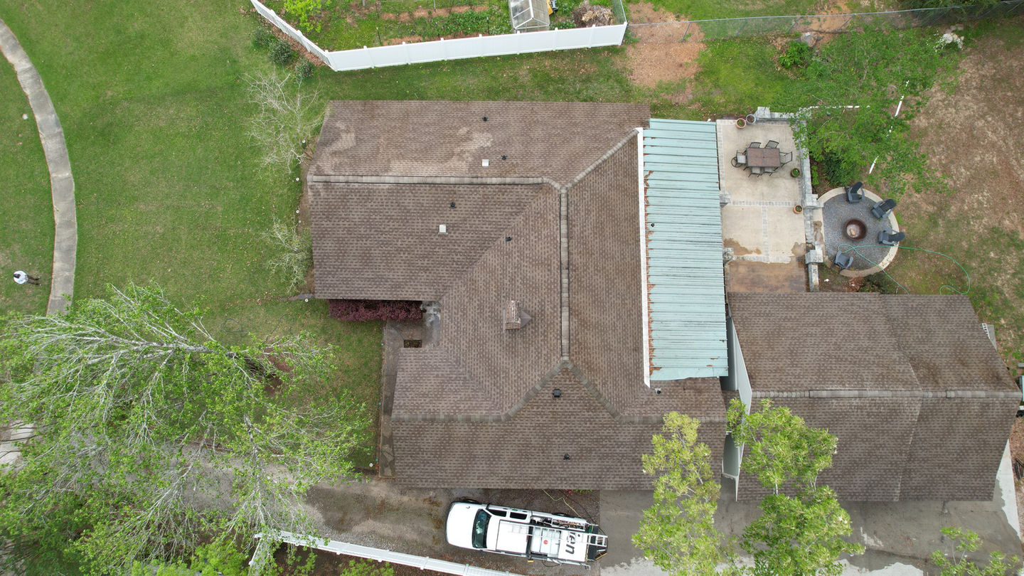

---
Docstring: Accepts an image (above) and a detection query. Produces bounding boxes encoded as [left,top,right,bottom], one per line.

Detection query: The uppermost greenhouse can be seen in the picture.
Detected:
[513,0,552,33]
